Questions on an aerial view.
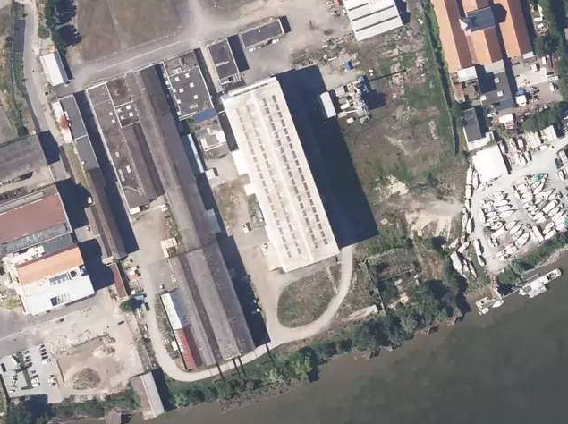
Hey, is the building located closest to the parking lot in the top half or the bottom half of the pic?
bottom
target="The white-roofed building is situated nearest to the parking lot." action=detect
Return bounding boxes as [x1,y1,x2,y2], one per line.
[22,266,97,315]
